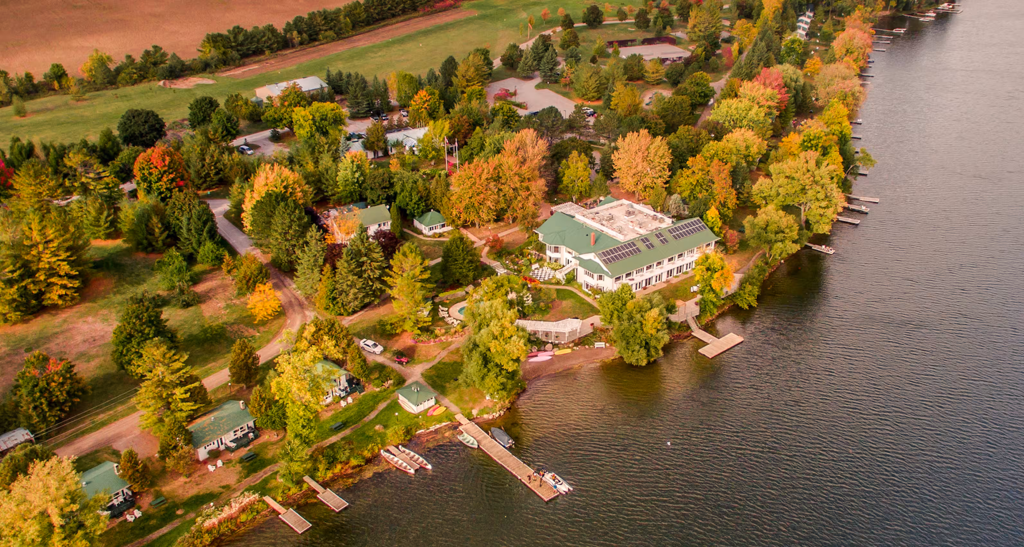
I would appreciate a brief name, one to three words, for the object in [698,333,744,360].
pier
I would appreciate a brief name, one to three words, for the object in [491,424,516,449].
boat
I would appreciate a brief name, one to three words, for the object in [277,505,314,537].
pier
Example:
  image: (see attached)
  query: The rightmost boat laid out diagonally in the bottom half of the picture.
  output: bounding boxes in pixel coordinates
[543,466,575,494]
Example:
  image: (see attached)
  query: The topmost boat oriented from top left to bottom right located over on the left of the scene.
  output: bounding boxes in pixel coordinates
[395,401,418,415]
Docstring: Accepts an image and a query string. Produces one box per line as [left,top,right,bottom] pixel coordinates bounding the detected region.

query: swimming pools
[445,298,490,320]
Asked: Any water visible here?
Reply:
Yes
